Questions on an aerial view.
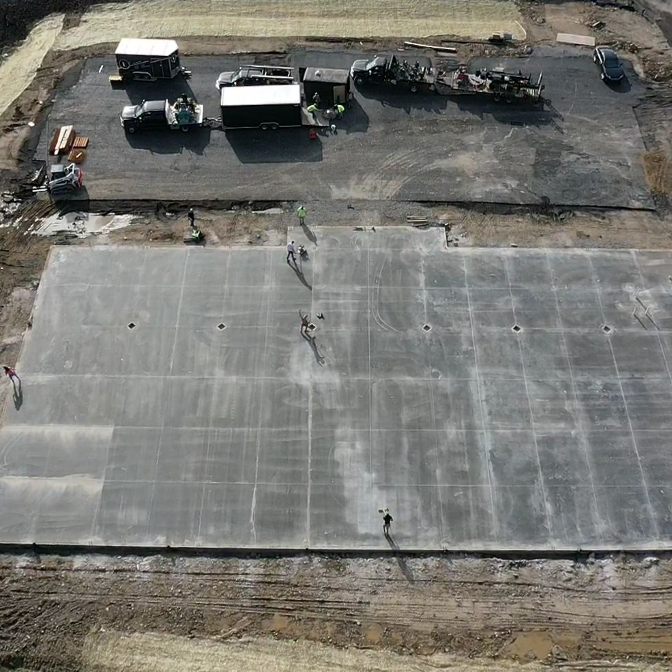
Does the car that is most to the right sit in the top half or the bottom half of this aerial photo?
top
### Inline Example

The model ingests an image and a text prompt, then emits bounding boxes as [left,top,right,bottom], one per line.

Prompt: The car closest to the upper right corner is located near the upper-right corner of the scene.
[592,50,632,84]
